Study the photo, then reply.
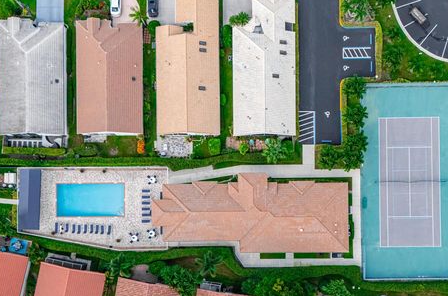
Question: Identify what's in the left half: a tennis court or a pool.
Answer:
pool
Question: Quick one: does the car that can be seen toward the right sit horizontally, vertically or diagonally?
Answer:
diagonally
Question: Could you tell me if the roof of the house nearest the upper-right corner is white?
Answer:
Yes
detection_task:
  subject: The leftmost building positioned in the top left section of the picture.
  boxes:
[0,16,70,135]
